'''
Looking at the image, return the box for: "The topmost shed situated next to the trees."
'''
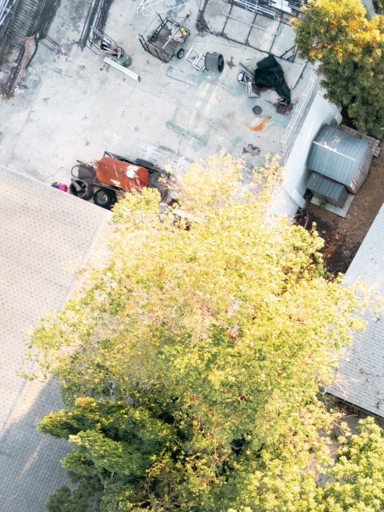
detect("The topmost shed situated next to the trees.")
[301,106,375,190]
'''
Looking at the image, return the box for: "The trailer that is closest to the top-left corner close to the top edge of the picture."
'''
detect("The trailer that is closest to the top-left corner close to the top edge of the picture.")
[128,3,192,59]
